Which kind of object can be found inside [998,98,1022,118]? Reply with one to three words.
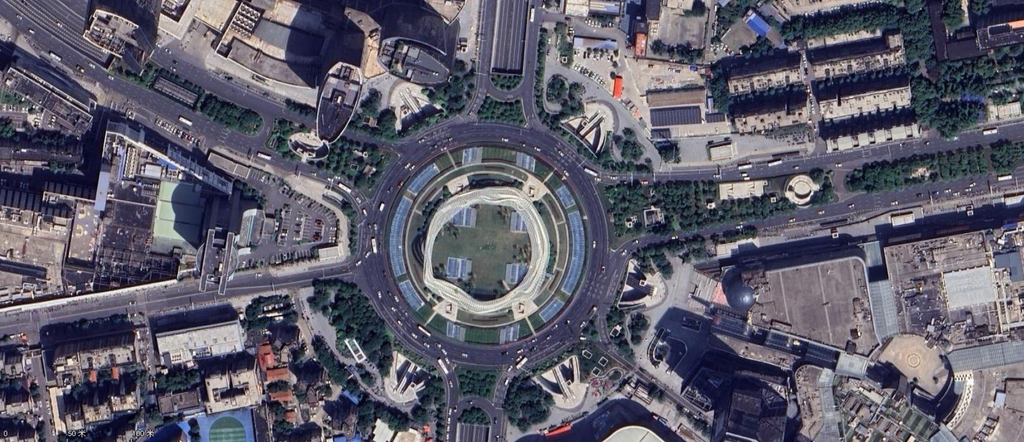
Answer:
shed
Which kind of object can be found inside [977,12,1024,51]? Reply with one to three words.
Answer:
building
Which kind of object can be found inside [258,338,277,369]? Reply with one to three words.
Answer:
house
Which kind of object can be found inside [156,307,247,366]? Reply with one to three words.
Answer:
building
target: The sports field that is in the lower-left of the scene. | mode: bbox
[209,417,245,442]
